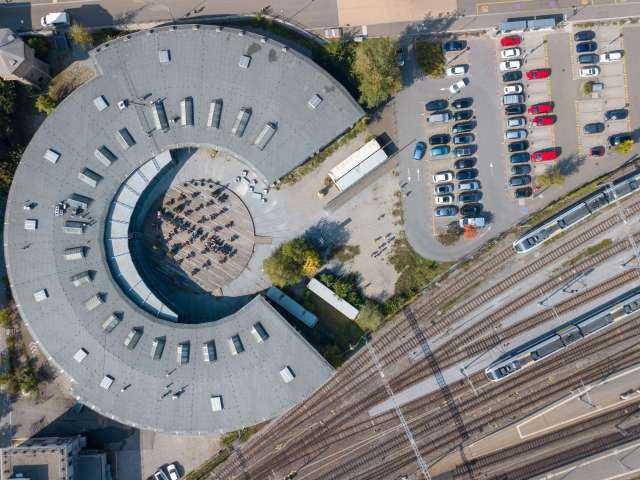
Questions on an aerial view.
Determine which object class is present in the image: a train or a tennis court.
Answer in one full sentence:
The image shows a train.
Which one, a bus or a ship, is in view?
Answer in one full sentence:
The one in the frame is a bus.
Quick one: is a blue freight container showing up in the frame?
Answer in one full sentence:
No, there isn't any blue freight container down there.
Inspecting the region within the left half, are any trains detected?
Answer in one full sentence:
No, I see no train within the left half.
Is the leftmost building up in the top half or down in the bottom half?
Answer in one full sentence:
The leftmost building is in the bottom half of the image.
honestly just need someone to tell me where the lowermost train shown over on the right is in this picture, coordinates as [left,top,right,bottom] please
[480,291,640,376]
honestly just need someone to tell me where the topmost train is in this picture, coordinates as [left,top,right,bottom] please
[508,171,640,252]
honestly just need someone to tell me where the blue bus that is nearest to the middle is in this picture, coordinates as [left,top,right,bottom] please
[267,286,318,328]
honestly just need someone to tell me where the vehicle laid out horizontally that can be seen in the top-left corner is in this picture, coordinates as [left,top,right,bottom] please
[42,13,69,26]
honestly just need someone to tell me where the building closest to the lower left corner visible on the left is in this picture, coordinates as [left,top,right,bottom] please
[0,435,87,480]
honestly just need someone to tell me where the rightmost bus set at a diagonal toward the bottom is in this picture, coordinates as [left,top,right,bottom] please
[308,278,356,319]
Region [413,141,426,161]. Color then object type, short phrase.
blue vehicle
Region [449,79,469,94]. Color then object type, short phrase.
white car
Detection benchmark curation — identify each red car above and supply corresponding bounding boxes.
[500,36,521,47]
[528,103,553,115]
[526,69,550,80]
[531,115,555,127]
[531,151,558,162]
